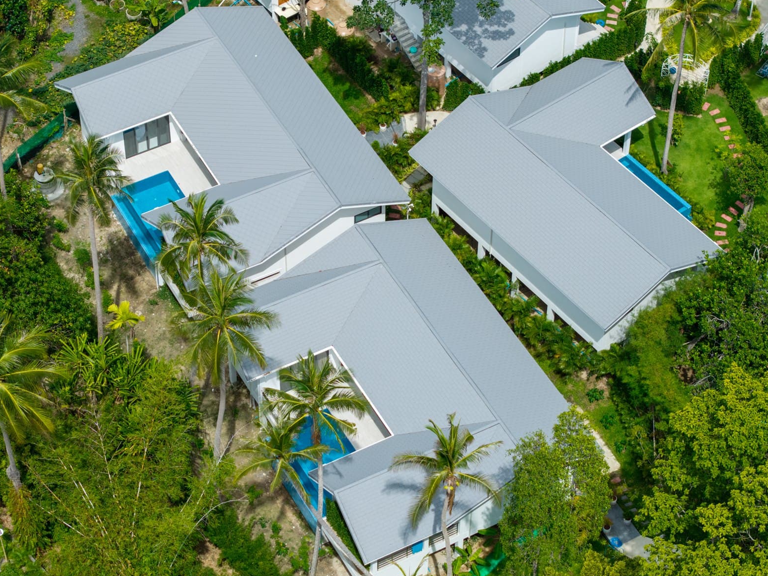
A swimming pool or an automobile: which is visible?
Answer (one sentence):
There is a swimming pool in the scene.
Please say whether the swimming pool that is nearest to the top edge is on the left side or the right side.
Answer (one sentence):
The swimming pool that is nearest to the top edge appears in the right half of the scene.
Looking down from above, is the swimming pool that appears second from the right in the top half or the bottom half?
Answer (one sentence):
The swimming pool that appears second from the right is in the bottom half of the image.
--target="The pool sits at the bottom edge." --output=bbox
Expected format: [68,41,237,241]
[268,408,358,553]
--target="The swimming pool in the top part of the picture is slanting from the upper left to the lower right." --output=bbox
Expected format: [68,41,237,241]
[618,155,694,222]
